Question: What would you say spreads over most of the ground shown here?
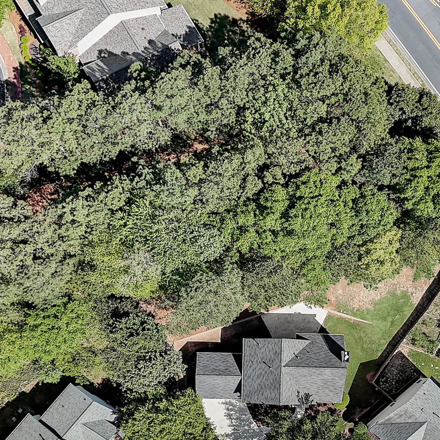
trees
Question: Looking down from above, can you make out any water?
No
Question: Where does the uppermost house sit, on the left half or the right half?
left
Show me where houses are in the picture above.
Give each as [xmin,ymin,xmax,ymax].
[24,0,204,87]
[368,377,440,440]
[5,383,123,440]
[196,334,353,405]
